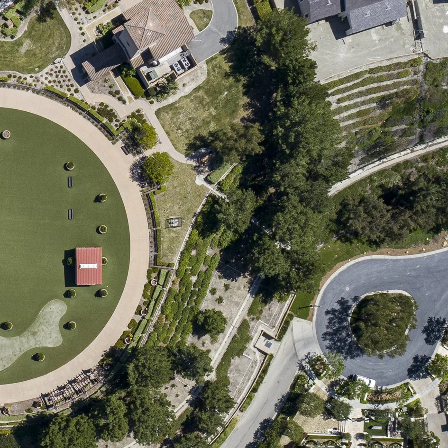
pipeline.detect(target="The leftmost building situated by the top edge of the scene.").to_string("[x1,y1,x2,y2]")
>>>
[82,0,194,82]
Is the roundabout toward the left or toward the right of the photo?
right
